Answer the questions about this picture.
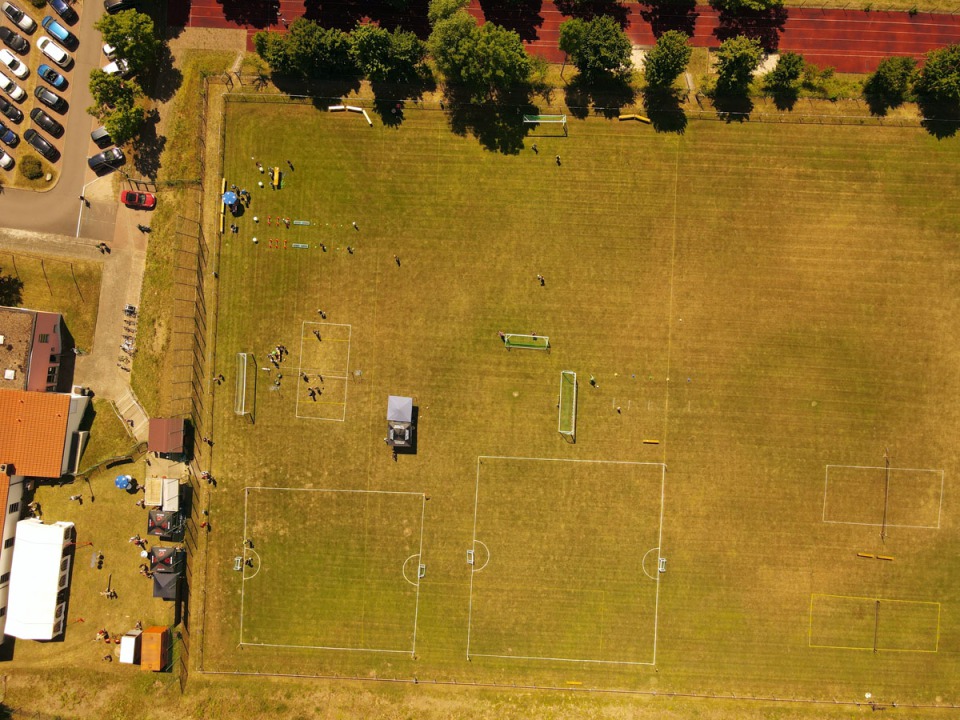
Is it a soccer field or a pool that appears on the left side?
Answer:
soccer field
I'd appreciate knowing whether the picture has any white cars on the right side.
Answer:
No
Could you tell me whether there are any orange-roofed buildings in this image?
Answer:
Yes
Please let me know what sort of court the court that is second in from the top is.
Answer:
tennis court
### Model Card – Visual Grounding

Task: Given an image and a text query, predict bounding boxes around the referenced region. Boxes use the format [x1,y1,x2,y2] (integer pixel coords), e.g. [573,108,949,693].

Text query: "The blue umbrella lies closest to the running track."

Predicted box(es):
[222,191,237,205]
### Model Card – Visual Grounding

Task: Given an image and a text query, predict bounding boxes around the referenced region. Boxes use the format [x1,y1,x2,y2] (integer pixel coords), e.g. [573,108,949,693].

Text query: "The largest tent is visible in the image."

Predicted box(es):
[4,521,74,646]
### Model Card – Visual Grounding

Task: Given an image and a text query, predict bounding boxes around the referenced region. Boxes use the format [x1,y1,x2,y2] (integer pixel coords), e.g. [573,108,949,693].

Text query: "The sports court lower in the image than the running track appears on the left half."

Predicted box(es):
[296,322,352,420]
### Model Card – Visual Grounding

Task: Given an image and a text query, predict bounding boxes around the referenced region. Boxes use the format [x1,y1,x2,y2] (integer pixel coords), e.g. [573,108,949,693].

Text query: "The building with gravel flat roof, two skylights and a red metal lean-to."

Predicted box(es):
[0,303,79,392]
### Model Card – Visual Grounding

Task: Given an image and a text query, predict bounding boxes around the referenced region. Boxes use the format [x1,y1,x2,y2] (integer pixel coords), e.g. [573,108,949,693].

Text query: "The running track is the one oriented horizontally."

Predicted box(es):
[162,0,960,78]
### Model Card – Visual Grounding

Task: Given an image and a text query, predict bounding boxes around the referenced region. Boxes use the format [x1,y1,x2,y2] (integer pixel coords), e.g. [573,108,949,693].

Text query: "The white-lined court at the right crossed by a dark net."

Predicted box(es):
[823,465,944,528]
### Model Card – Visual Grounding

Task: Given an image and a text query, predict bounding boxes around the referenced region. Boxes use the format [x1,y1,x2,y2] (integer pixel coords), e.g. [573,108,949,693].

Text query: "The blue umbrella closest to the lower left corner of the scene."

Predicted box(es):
[115,475,133,488]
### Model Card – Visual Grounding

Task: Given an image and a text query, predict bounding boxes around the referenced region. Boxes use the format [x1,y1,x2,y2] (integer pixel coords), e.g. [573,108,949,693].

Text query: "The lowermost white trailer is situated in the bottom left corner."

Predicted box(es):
[120,616,142,664]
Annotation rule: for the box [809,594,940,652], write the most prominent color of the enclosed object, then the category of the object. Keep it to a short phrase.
yellow sports court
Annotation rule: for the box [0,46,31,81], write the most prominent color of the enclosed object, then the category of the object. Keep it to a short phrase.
white car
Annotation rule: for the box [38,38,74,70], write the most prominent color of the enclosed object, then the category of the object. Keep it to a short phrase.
white car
